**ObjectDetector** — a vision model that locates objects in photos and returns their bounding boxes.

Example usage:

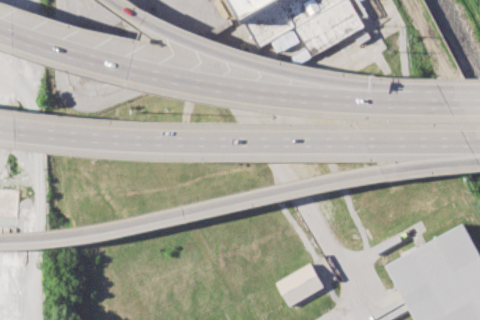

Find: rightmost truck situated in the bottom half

[376,235,408,258]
